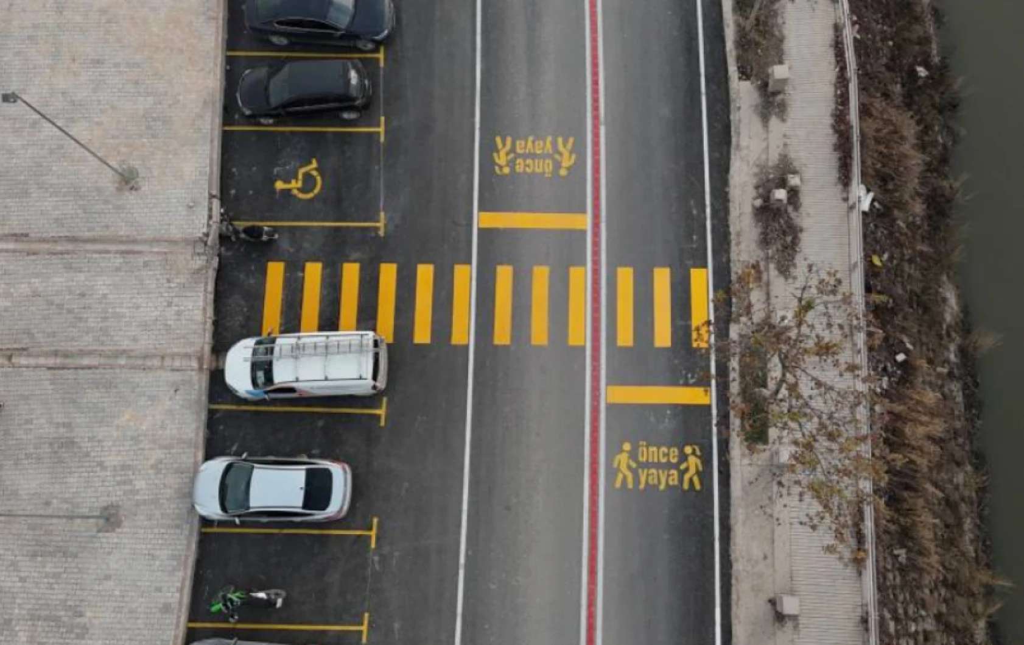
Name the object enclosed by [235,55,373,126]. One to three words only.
car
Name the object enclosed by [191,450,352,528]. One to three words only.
car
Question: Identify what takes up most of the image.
paved ground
